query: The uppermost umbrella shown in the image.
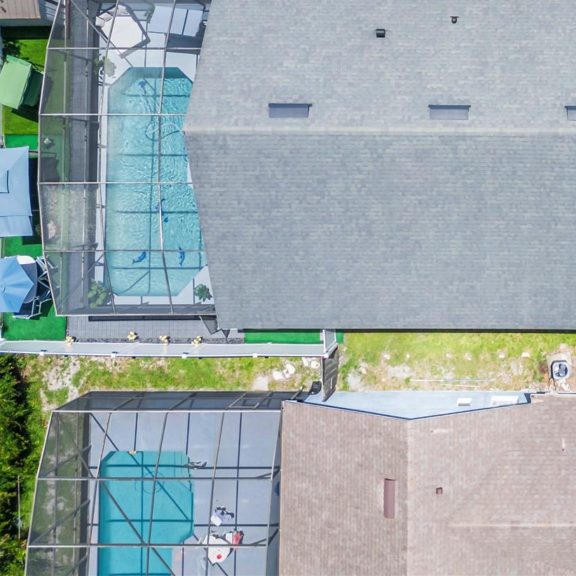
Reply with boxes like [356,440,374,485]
[0,147,59,217]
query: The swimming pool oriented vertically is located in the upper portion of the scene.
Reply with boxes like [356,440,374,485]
[106,68,208,296]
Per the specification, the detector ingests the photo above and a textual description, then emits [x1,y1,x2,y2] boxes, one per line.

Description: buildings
[281,391,576,576]
[182,0,576,331]
[0,0,65,22]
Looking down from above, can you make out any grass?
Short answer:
Yes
